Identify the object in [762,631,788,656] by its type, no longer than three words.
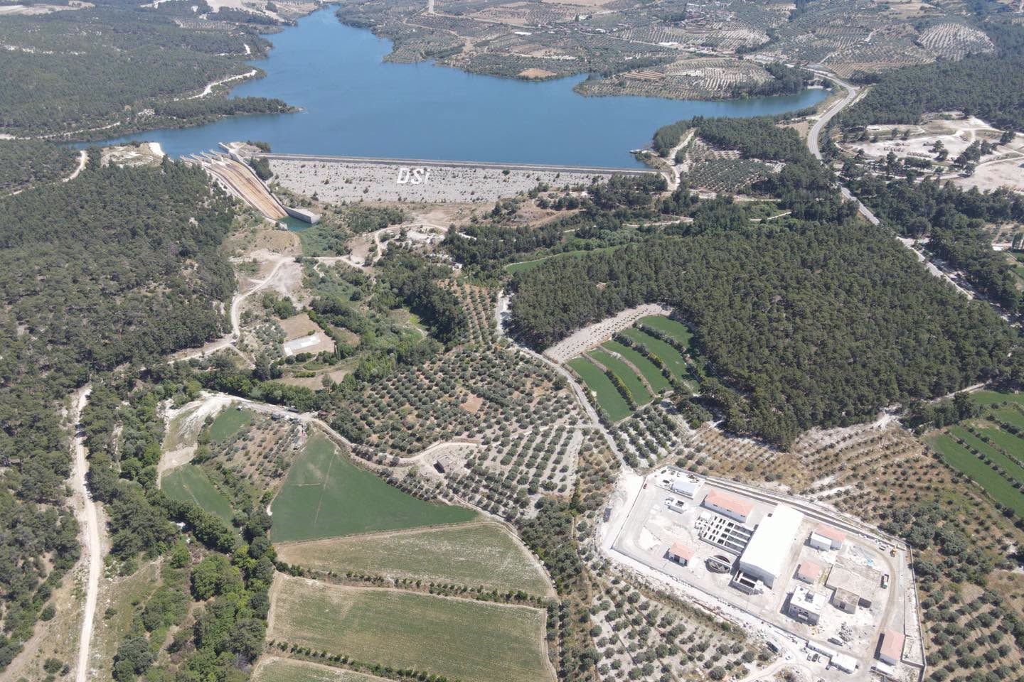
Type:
truck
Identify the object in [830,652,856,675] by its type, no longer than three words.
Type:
building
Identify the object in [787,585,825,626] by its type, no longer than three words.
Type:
building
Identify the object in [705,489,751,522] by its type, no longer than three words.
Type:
house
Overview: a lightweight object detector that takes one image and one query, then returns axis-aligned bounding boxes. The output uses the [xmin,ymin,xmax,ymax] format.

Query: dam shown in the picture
[260,155,674,209]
